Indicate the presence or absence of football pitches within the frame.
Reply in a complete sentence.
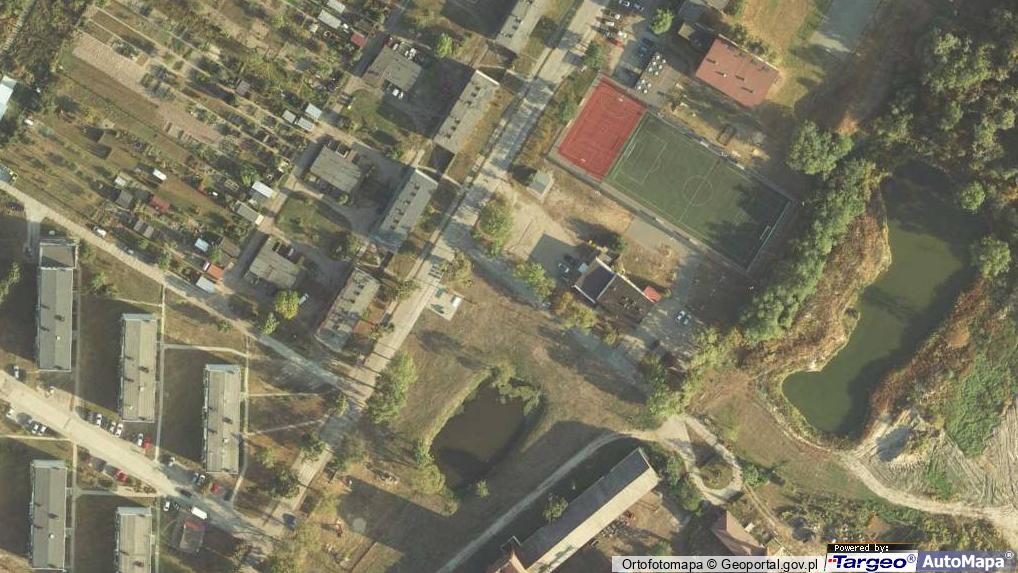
Yes, I can see a football pitch in this picture.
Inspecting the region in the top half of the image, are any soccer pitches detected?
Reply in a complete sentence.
Yes, I can see a soccer pitch in the top half of the image.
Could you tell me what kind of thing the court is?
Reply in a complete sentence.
The court can be classified as a basketball court.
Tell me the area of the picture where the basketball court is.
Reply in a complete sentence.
The basketball court is in the top part of the image.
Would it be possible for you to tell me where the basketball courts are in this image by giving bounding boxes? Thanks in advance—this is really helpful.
[560,82,645,180]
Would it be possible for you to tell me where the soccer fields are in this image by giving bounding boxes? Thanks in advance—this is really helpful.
[605,113,791,268]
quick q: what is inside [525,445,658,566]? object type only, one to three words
barn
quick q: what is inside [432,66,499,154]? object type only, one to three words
house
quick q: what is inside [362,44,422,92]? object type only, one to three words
shed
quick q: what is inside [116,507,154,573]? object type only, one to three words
building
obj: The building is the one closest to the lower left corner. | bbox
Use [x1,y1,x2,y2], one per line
[31,461,70,570]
